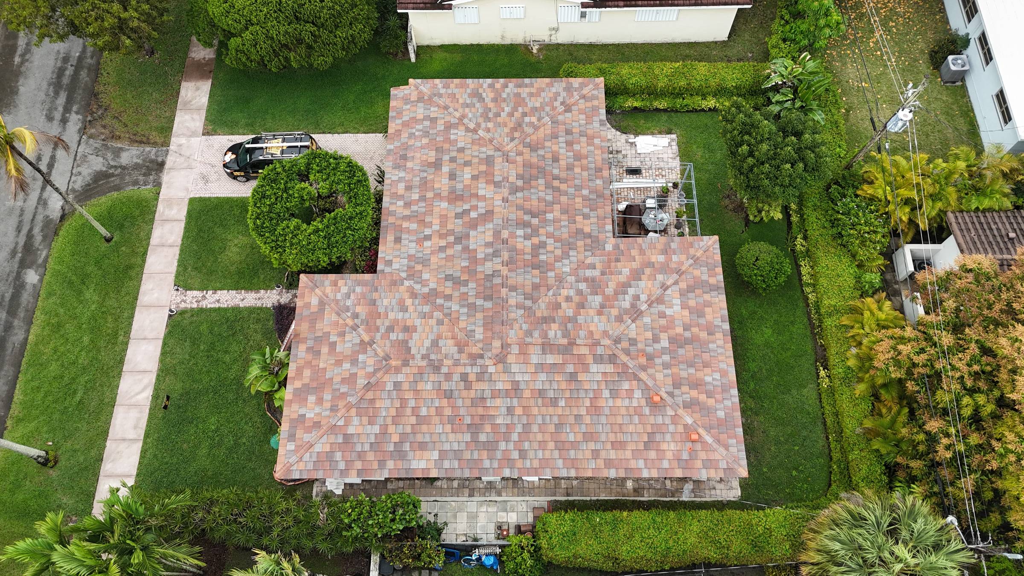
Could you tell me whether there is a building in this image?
Yes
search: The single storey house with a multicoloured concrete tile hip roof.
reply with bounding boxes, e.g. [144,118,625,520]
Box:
[273,75,749,480]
